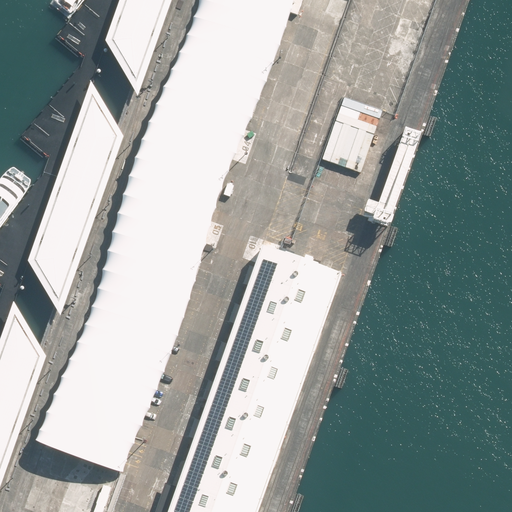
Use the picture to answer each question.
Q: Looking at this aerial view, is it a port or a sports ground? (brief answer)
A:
port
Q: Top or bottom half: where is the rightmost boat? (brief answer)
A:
top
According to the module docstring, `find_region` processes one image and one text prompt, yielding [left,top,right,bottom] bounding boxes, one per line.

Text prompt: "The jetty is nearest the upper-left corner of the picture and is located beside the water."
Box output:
[0,0,120,340]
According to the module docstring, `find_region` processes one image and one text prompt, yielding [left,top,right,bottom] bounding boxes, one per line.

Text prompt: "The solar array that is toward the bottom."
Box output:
[170,260,268,512]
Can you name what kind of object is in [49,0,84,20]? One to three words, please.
boat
